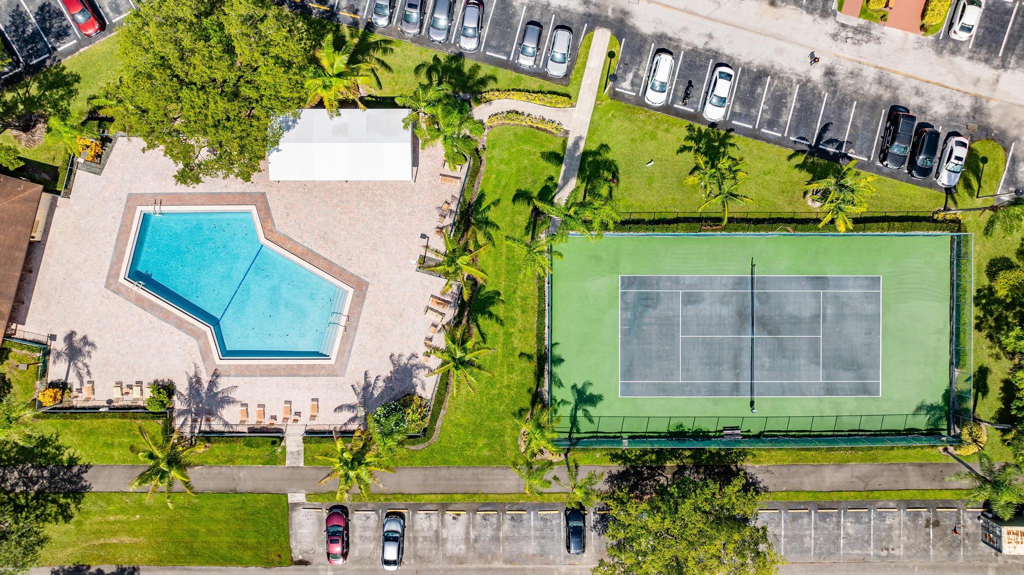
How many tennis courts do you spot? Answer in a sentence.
Altogether the scene contains 1 tennis court.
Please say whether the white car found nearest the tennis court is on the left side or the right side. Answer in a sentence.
The white car found nearest the tennis court is on the right side of the image.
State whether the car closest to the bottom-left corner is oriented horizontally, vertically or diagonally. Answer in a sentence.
Seen from above, the car closest to the bottom-left corner lies vertically.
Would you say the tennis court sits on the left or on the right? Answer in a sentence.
You can find the tennis court on the right side of the picture.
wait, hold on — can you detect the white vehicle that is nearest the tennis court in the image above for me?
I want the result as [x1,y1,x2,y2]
[934,135,971,189]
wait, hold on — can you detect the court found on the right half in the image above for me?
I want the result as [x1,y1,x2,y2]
[551,236,950,436]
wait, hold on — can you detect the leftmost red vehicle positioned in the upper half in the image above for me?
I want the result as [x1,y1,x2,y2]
[63,0,104,39]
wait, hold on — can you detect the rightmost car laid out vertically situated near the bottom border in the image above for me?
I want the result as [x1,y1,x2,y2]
[564,506,589,559]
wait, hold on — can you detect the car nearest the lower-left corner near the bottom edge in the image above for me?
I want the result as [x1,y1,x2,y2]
[323,508,349,565]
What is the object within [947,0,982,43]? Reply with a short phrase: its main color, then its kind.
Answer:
white car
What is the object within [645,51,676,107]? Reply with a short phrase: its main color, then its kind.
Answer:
white car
